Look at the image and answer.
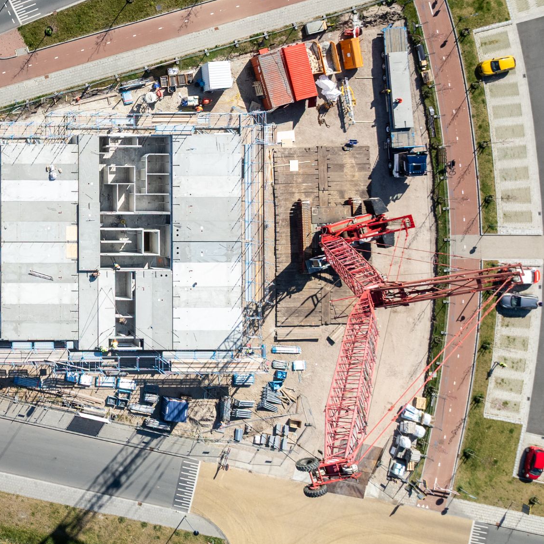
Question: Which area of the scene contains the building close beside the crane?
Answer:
left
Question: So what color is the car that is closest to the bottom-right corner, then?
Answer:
red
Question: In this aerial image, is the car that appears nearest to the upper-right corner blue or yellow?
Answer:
yellow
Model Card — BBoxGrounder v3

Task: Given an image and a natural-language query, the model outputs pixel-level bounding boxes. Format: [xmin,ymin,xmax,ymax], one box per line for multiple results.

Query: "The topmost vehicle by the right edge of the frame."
[475,57,517,78]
